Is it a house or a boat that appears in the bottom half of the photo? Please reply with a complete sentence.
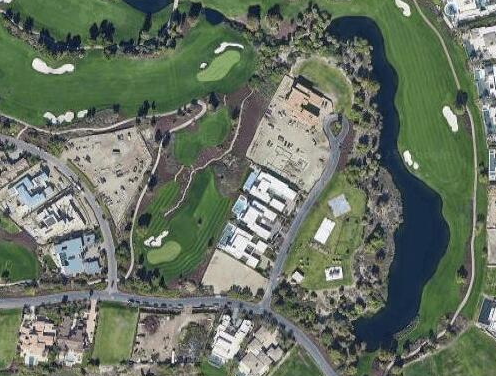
Looking in the bottom half of the photo, you will find a house.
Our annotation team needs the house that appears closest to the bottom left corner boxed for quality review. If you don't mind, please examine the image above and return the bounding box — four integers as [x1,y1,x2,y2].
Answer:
[21,317,56,358]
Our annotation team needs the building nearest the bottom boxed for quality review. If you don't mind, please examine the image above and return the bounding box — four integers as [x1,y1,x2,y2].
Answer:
[239,339,285,376]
